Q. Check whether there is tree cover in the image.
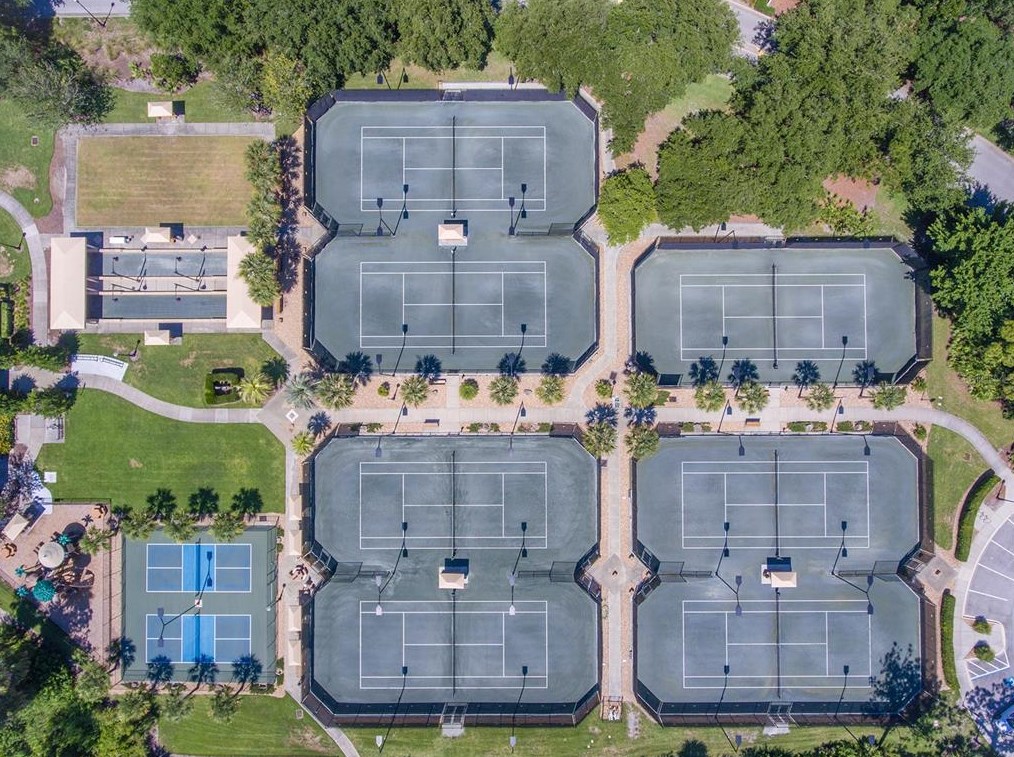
Yes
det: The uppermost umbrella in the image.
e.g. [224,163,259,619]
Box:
[41,539,68,567]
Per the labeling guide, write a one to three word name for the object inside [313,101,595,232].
tennis court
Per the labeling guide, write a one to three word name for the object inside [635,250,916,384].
tennis court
